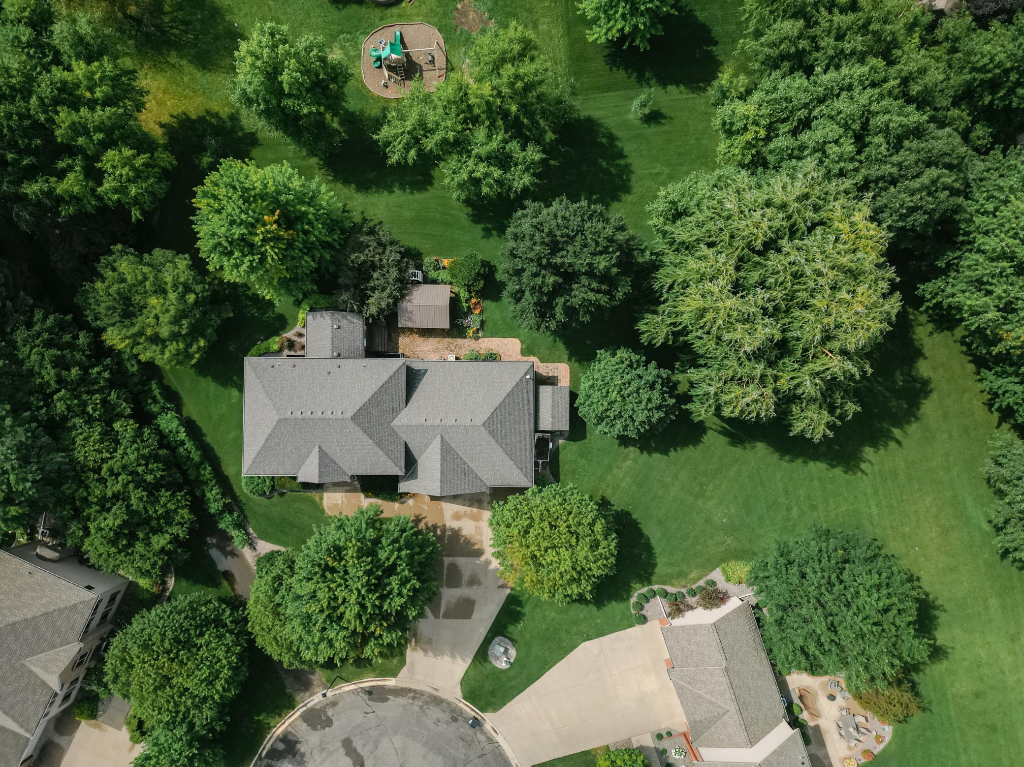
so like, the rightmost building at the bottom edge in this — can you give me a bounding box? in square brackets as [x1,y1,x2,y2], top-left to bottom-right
[648,593,810,767]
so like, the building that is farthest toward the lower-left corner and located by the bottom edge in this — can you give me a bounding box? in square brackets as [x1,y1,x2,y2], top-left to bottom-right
[0,525,125,767]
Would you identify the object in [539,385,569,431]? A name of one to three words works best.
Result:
shed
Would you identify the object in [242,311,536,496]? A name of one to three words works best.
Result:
house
